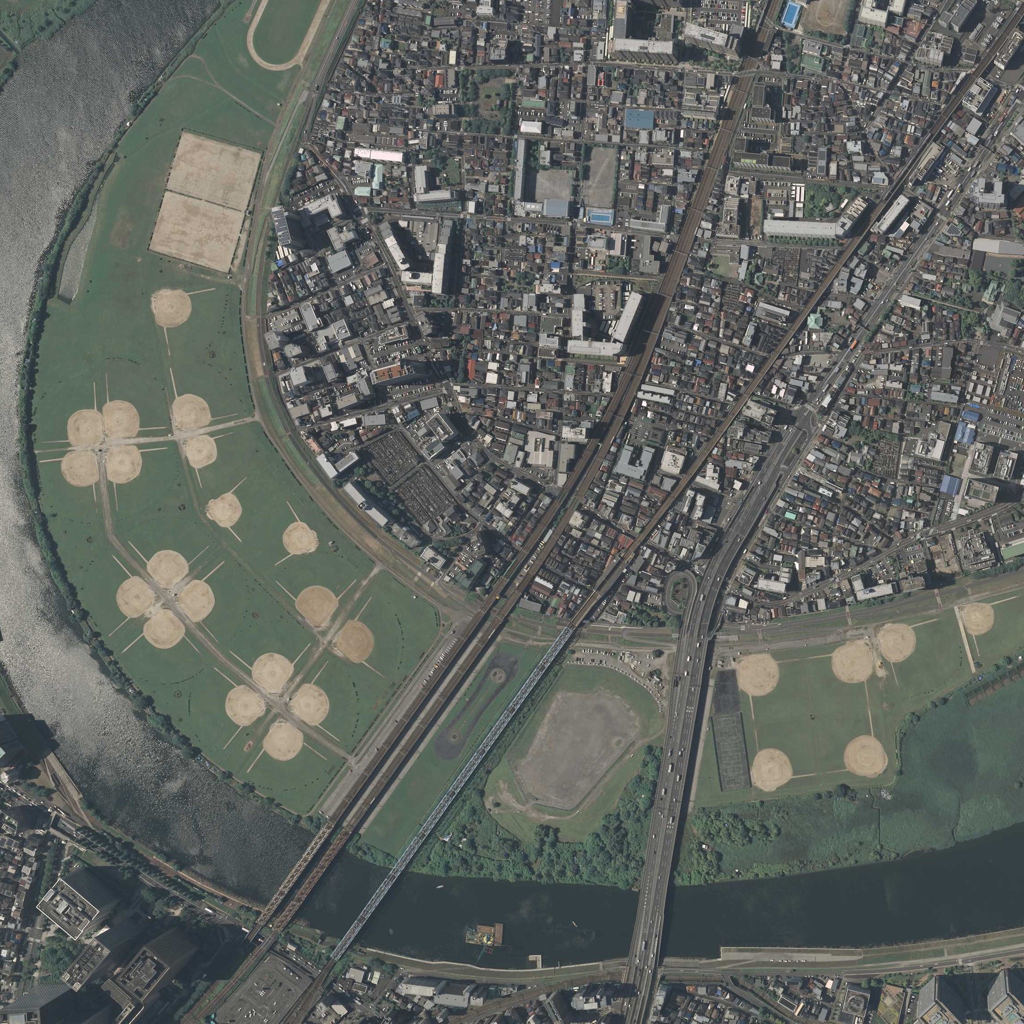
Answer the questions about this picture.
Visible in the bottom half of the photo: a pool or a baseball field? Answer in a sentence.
Visible in the bottom half of the photo is a baseball field.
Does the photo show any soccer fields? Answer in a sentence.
Yes, the picture does show a soccer field.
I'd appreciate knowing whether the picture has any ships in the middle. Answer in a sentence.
No, I can find no ship in the middle.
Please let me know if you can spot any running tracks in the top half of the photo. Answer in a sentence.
Yes, a running track can be seen in the top half of the photo.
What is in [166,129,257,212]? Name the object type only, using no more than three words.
soccer field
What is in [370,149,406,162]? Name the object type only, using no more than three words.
building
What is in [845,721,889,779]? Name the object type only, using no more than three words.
baseball field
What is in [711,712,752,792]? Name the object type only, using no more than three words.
sports court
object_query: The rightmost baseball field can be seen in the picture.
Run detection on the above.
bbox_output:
[961,597,1016,655]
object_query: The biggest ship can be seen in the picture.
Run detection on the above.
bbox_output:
[466,923,503,966]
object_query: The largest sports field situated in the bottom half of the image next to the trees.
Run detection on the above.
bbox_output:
[512,693,638,808]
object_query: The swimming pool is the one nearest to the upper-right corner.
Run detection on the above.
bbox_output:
[780,1,802,29]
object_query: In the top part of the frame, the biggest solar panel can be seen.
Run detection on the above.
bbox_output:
[275,208,289,243]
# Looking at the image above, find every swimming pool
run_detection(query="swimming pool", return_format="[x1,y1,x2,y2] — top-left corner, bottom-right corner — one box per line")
[780,1,802,29]
[586,209,614,226]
